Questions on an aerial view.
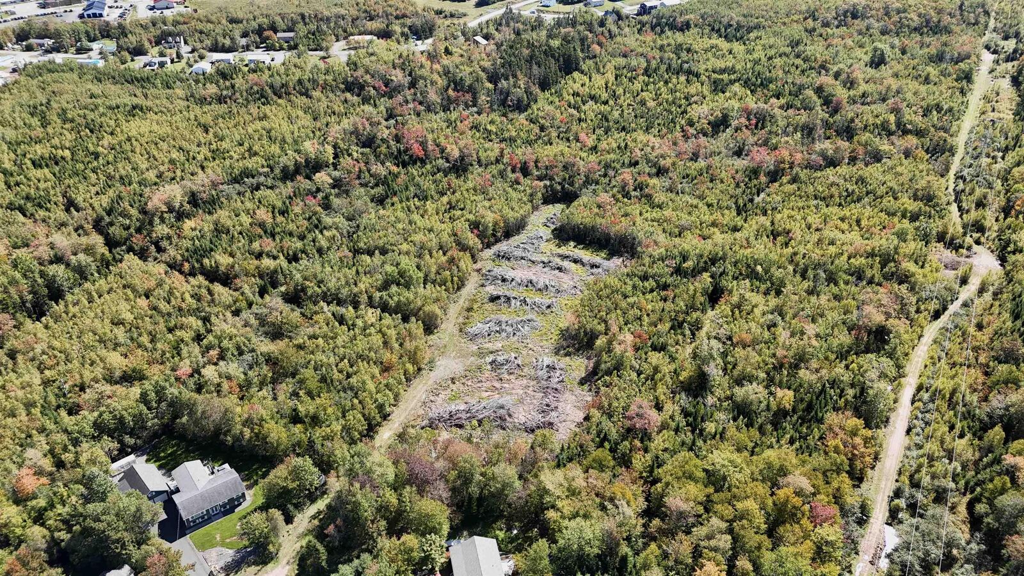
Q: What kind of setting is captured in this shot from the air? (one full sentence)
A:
The picture captures a forest.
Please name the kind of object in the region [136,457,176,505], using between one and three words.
building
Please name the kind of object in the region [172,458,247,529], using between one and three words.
house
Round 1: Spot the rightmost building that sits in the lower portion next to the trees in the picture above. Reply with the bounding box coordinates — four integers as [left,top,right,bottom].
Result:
[447,535,521,576]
